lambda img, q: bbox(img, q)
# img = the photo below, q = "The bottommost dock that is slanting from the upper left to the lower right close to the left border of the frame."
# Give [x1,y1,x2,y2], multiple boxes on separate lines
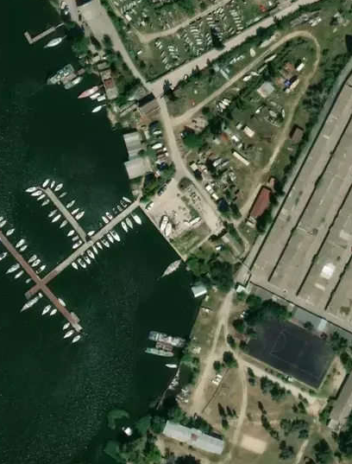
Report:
[0,232,84,335]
